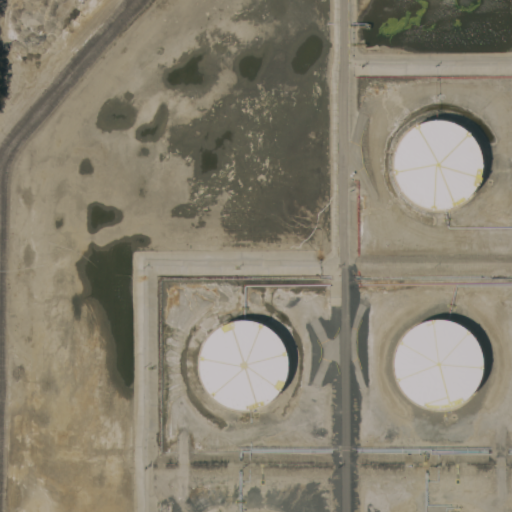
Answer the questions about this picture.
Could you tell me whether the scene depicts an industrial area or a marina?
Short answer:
industrial area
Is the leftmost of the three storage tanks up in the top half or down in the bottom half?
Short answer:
bottom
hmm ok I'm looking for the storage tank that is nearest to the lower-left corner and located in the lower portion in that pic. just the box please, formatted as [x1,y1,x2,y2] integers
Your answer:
[196,320,290,414]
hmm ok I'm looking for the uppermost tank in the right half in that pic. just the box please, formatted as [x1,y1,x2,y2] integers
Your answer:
[390,119,484,212]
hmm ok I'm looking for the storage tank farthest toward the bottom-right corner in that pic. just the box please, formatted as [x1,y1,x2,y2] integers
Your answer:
[392,319,485,412]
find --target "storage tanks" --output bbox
[196,320,290,414]
[392,319,485,412]
[390,119,484,212]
